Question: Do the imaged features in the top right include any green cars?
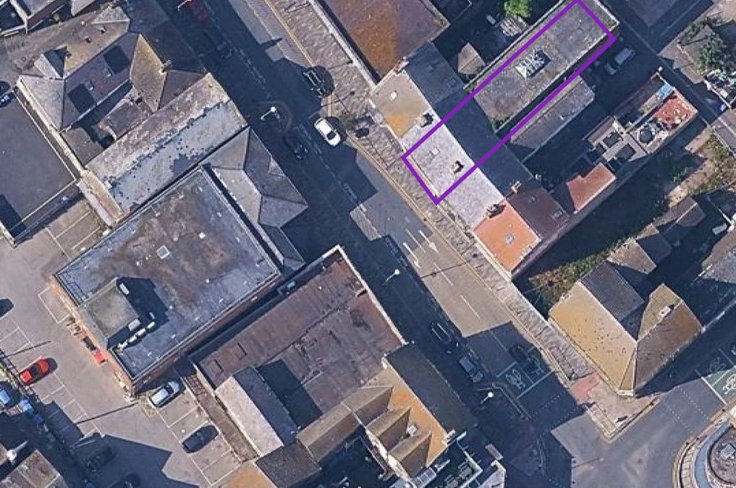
No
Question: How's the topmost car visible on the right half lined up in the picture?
diagonally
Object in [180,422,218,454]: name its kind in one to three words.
car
